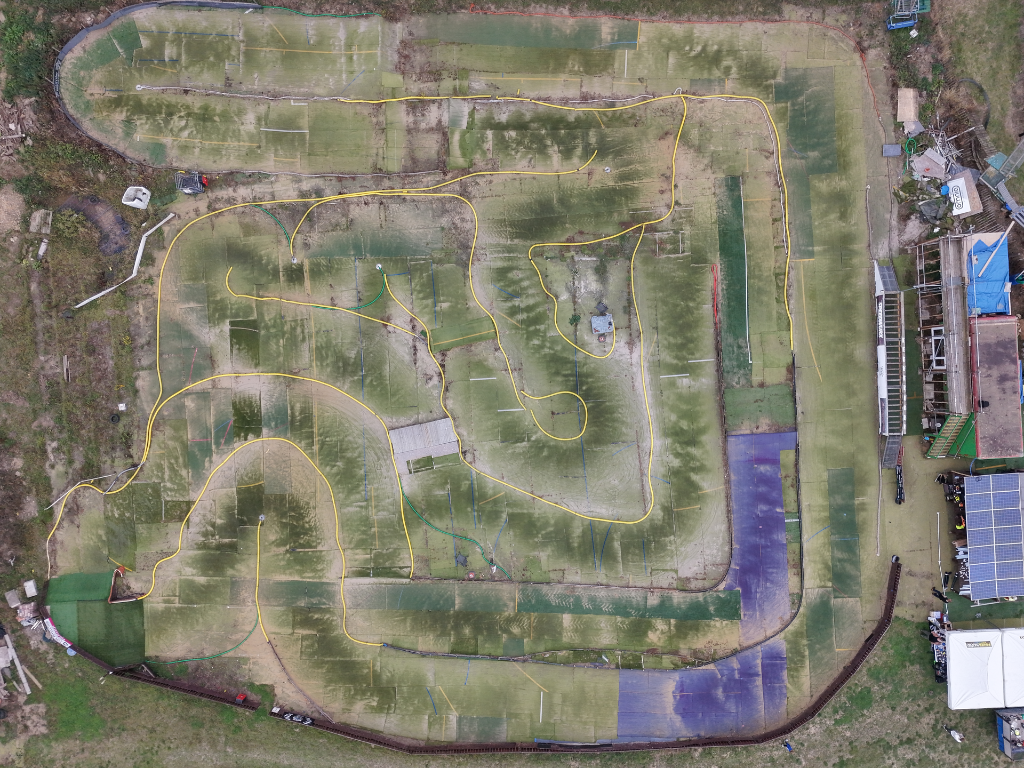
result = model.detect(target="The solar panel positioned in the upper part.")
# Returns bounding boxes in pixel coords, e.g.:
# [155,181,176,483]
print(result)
[882,144,901,157]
